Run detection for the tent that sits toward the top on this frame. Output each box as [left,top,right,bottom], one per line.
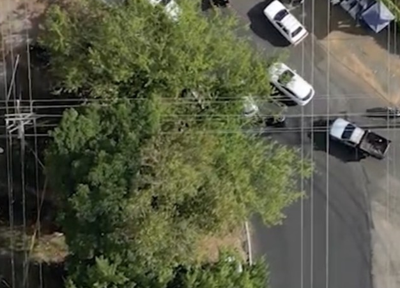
[353,0,395,37]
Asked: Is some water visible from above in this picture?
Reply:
No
